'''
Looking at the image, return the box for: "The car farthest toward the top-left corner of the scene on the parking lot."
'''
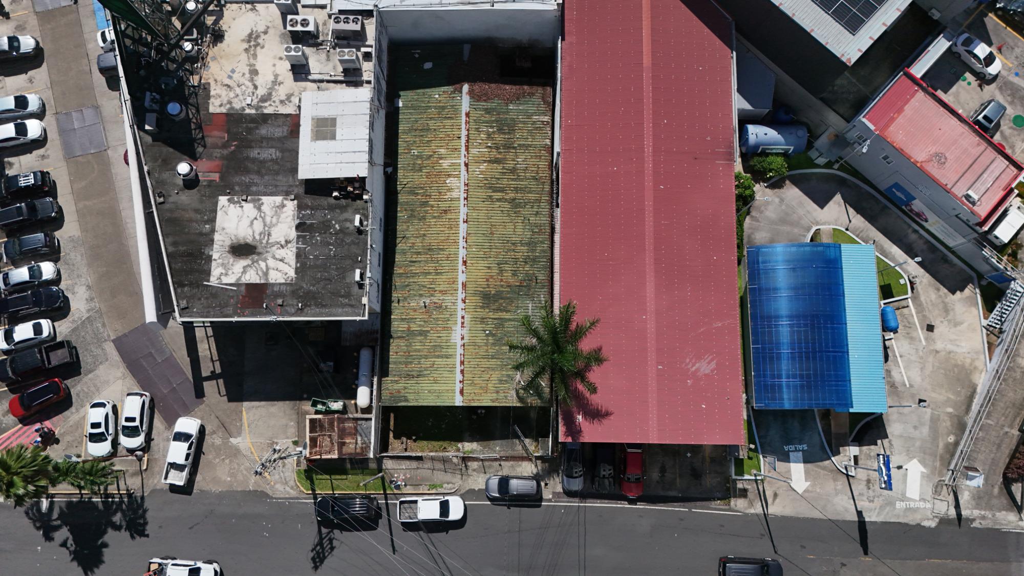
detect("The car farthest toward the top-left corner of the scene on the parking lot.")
[0,33,44,61]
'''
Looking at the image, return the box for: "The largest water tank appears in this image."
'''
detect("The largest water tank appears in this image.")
[742,128,806,158]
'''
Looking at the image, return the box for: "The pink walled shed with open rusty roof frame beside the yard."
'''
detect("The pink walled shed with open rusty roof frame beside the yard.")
[306,416,377,457]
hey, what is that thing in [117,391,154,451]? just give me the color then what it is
white car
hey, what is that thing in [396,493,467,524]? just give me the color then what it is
white truck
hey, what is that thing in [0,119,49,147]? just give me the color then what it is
white car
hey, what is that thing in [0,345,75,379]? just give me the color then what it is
black truck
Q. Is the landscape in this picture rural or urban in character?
urban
